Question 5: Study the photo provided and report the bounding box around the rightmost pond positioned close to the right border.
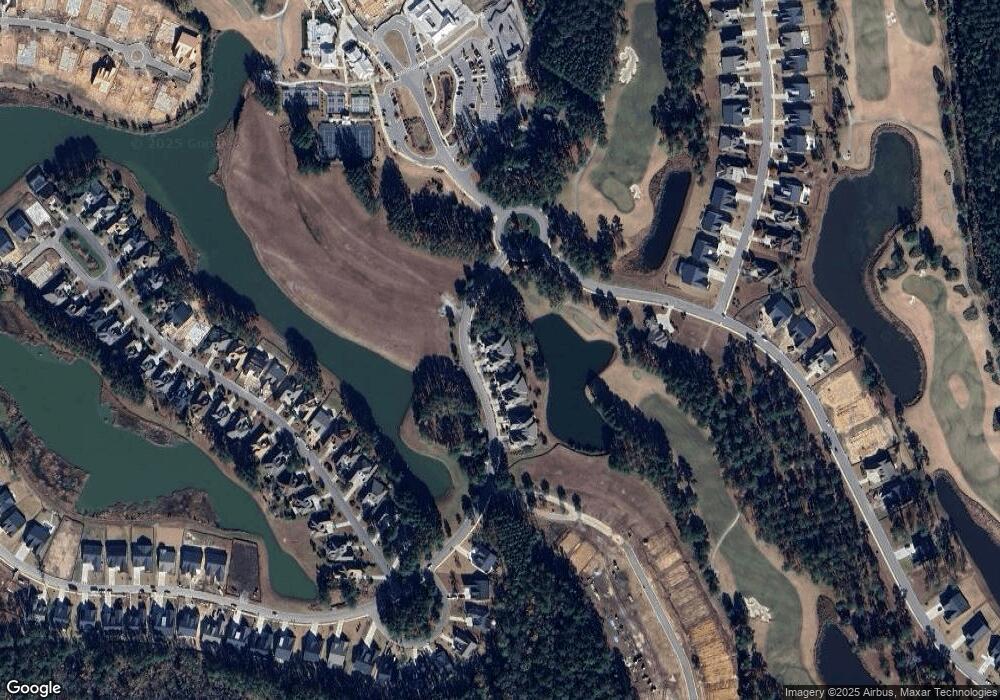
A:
[934,471,1000,609]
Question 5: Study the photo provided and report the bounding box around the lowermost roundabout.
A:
[369,560,450,647]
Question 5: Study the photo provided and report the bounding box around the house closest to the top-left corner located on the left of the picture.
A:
[89,62,118,89]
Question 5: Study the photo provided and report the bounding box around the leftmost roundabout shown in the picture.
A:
[53,218,116,289]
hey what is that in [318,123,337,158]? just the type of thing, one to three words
tennis court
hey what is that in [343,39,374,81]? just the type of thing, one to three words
building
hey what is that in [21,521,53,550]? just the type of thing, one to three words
house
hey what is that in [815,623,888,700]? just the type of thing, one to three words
pond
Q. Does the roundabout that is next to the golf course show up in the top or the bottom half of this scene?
top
